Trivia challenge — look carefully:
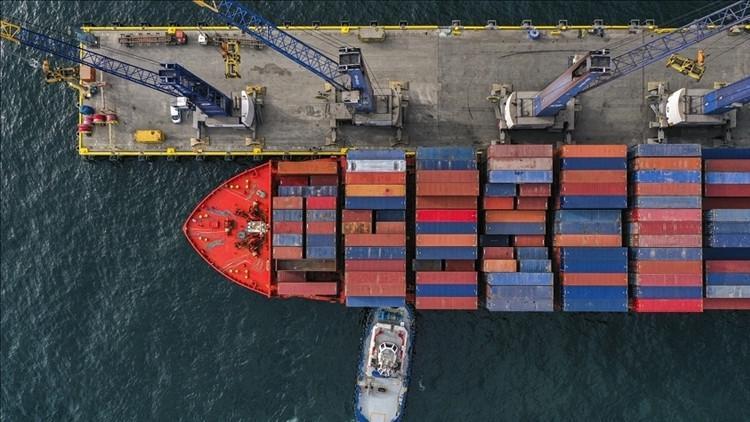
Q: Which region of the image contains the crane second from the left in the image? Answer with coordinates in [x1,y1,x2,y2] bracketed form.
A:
[176,0,411,145]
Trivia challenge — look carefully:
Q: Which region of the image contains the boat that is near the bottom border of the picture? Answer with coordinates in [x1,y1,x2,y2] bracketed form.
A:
[351,304,418,422]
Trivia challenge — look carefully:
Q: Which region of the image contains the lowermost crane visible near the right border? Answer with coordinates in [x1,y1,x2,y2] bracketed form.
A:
[650,75,750,146]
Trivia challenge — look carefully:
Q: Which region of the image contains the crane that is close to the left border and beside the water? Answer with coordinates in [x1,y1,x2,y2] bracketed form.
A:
[0,15,274,149]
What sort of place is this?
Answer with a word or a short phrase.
port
